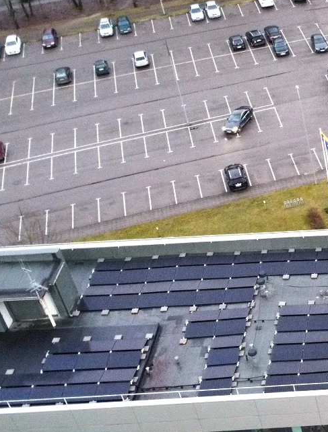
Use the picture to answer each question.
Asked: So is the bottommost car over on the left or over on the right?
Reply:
right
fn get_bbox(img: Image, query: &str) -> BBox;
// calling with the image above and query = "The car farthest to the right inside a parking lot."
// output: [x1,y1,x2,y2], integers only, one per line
[310,34,328,56]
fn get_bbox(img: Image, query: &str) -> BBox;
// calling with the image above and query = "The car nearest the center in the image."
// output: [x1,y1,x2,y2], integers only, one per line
[224,166,250,195]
